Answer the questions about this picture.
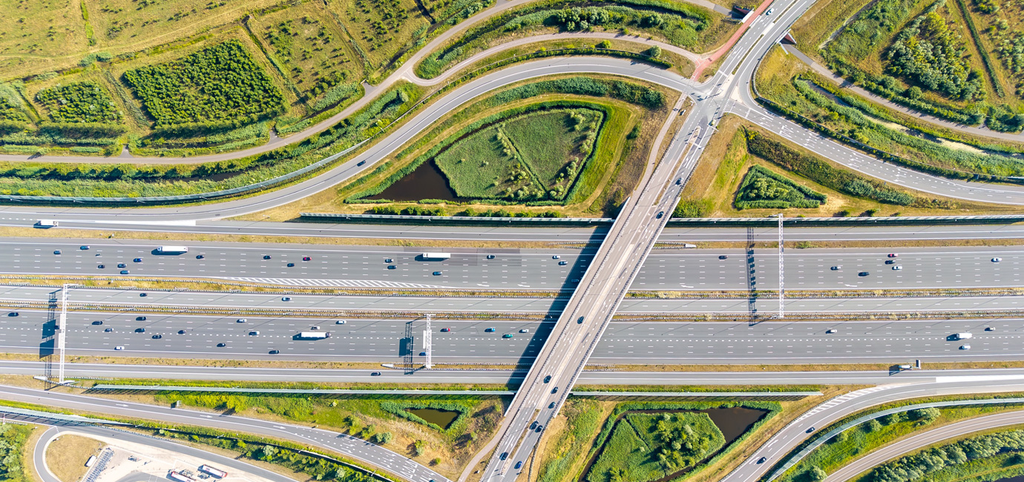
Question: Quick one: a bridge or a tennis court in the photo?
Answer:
bridge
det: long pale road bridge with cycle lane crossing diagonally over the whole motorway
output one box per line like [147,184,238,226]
[505,194,682,422]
